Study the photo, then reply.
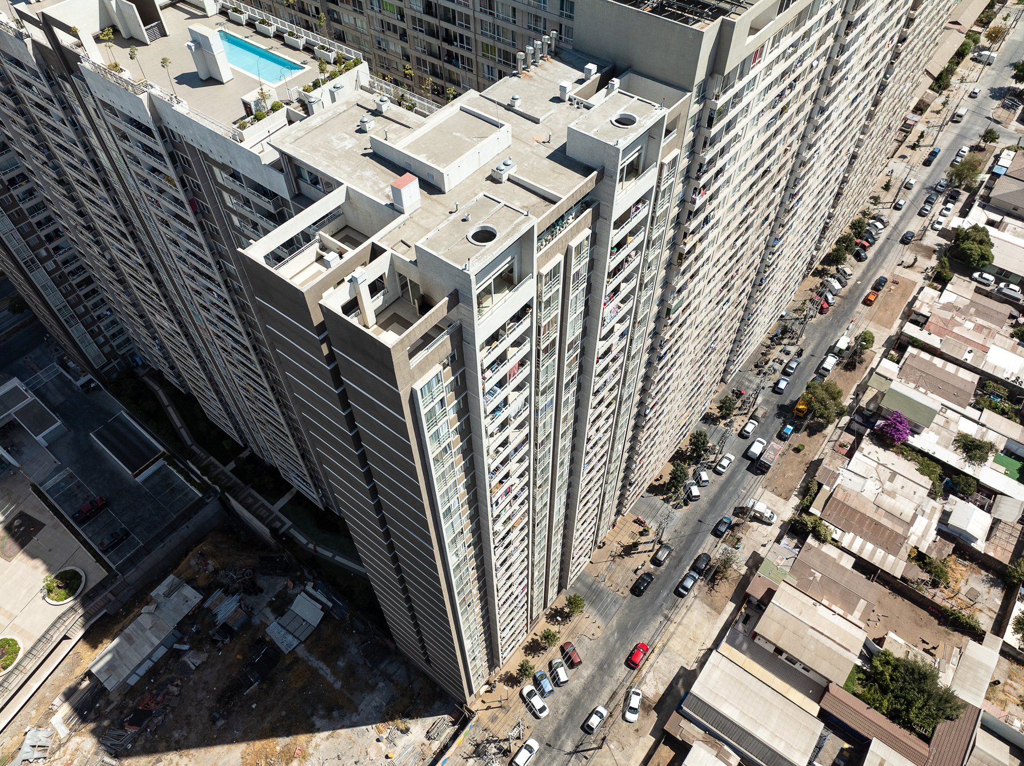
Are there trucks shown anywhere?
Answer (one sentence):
Yes, the picture does show a truck.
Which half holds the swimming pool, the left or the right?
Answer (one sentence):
The swimming pool appears in the left half of the scene.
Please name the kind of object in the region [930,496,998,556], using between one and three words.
house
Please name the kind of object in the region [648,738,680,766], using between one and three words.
shed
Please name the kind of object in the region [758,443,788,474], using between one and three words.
truck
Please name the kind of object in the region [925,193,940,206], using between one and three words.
vehicle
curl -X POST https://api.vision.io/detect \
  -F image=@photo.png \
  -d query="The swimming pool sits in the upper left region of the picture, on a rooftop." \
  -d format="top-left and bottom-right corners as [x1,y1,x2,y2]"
[215,25,307,86]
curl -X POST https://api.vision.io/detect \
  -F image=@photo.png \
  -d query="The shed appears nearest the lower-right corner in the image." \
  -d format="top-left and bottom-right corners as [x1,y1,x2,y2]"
[961,730,1014,766]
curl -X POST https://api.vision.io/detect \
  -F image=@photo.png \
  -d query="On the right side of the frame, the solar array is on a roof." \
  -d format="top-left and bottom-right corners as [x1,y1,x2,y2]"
[644,0,793,36]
